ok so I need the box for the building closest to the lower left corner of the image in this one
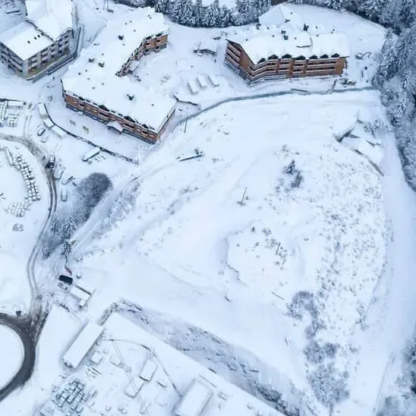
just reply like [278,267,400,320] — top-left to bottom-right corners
[62,320,106,371]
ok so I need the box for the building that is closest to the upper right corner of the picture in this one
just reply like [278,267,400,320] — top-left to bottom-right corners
[221,11,351,86]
